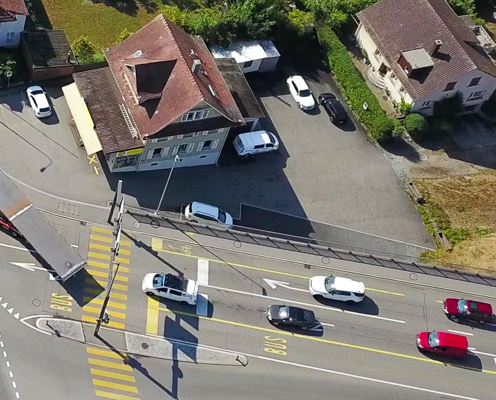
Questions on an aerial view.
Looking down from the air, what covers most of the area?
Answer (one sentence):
For the most part, this view shows paved ground.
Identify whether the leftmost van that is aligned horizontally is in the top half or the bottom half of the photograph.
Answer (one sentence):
You can find the leftmost van that is aligned horizontally in the bottom half.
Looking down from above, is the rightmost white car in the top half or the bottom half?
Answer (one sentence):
It is in the bottom half that the rightmost white car appears.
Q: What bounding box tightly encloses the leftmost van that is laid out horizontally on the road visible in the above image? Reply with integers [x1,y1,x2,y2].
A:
[143,271,197,303]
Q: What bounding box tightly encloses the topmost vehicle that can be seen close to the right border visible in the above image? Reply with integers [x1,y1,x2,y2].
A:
[441,297,495,326]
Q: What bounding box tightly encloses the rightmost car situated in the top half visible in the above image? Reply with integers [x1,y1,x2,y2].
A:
[316,90,352,129]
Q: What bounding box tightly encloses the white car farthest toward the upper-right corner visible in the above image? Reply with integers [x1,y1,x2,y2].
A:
[287,74,314,112]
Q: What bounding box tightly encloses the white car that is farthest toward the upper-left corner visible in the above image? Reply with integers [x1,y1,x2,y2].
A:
[26,87,51,121]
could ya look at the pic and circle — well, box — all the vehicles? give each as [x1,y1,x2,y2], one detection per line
[415,329,471,360]
[441,297,495,326]
[182,195,236,230]
[316,90,352,129]
[312,273,364,304]
[26,87,51,121]
[231,129,281,158]
[143,271,197,303]
[287,74,314,112]
[265,304,318,332]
